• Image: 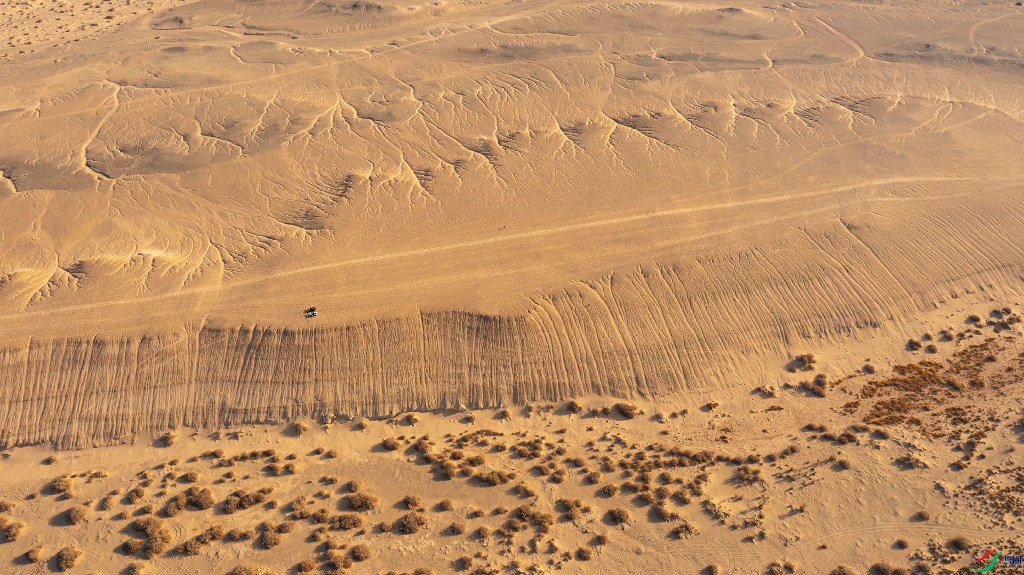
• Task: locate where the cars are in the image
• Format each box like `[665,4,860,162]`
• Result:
[309,311,318,316]
[308,306,317,312]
